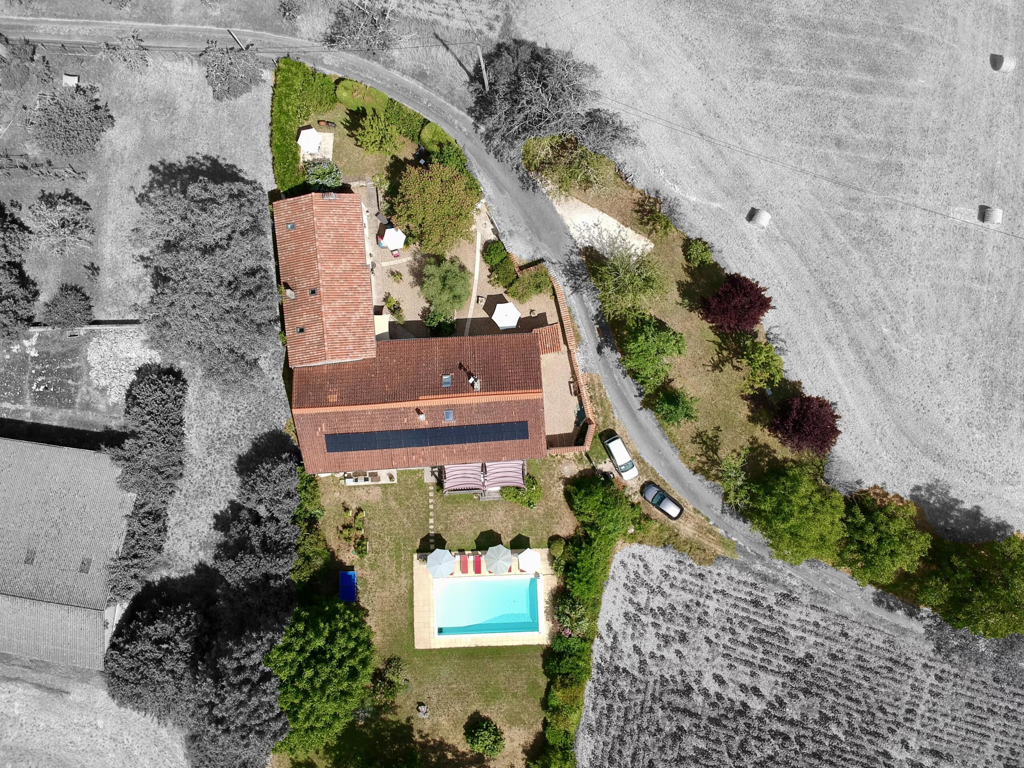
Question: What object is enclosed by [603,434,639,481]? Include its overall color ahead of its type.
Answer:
white car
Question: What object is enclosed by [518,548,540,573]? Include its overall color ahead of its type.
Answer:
white umbrella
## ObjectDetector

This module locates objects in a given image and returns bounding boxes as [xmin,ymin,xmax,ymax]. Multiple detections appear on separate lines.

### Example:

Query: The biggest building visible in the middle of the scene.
[292,331,547,475]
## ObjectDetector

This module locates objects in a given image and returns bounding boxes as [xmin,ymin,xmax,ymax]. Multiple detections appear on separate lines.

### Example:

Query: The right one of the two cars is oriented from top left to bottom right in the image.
[641,481,685,522]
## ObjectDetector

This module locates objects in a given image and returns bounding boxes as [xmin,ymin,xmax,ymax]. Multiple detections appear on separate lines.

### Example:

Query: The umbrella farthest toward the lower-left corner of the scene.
[427,550,454,578]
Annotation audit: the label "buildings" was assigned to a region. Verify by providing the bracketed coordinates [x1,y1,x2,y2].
[63,72,87,91]
[292,331,547,475]
[0,433,159,671]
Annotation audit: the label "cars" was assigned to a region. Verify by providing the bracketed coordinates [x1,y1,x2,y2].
[641,481,685,522]
[603,434,639,481]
